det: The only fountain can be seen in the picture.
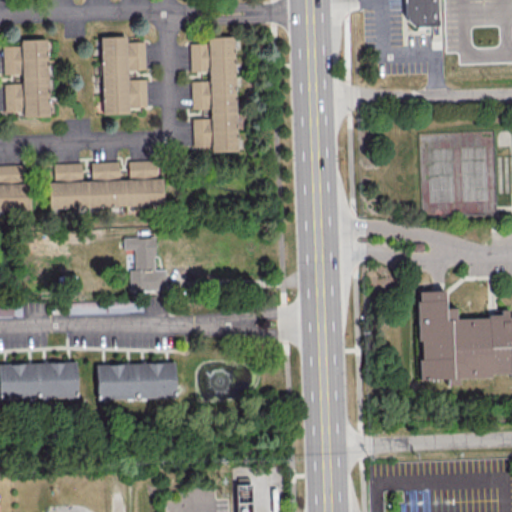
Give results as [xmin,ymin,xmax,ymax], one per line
[206,368,232,392]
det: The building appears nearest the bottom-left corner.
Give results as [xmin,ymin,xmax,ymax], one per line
[0,362,78,400]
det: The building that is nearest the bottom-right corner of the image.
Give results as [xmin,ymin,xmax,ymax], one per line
[420,292,512,382]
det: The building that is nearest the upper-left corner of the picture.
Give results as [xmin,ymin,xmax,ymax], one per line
[2,46,21,76]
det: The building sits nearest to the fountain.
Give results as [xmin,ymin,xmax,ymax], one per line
[97,362,177,400]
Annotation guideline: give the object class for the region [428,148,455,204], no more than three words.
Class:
tennis court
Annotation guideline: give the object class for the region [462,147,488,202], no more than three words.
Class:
tennis court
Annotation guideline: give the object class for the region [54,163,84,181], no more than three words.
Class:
building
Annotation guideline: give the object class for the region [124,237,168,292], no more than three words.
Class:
house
